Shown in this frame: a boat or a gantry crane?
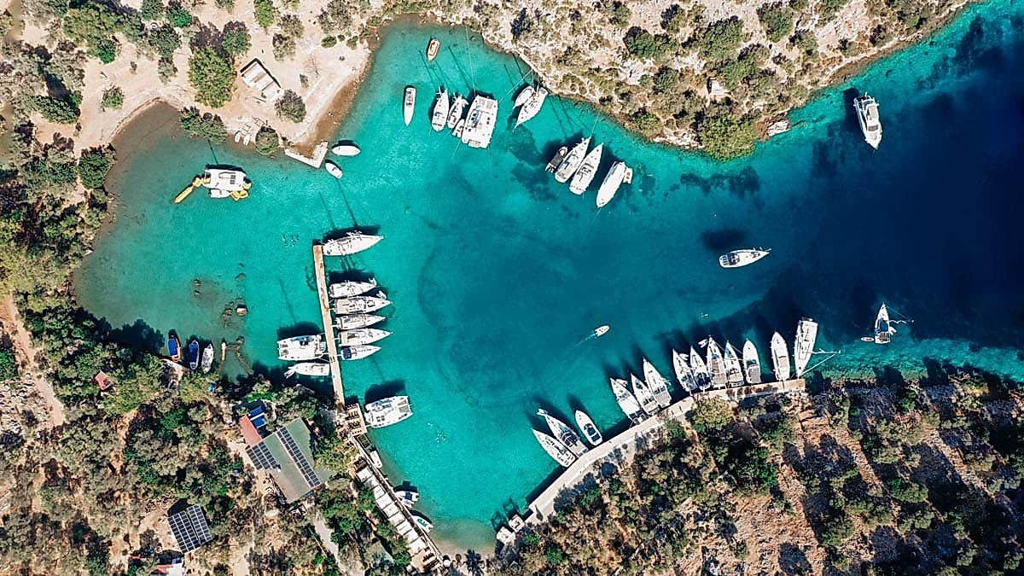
boat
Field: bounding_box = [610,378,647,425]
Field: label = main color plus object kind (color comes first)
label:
white boat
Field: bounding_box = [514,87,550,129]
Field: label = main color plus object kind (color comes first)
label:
white boat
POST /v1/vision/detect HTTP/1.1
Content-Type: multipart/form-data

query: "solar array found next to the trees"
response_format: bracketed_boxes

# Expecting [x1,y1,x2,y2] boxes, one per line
[167,503,213,553]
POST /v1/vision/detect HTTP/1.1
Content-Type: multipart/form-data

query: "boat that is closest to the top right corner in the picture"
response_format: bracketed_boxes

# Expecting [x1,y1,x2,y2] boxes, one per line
[855,93,879,149]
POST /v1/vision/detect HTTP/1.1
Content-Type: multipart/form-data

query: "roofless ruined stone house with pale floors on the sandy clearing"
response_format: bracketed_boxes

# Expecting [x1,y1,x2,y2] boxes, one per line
[241,61,284,102]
